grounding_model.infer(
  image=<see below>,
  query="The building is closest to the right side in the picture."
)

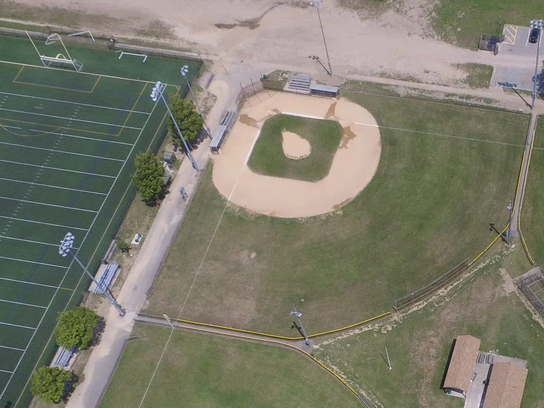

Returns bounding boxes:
[483,362,526,408]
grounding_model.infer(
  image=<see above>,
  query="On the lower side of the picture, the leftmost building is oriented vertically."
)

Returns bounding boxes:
[443,336,480,398]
